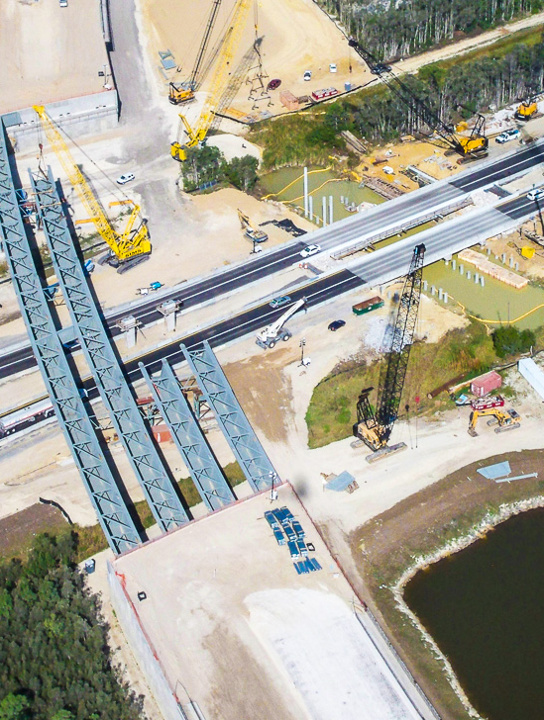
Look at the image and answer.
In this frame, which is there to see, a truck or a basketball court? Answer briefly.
truck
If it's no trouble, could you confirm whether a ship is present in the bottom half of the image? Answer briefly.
No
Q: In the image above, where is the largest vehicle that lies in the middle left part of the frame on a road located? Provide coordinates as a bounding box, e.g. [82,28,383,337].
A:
[1,391,67,431]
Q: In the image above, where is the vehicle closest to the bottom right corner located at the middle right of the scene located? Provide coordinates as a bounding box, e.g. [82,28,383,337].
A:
[466,408,525,441]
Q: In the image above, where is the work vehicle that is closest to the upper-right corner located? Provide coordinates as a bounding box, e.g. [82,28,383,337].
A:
[516,92,538,115]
